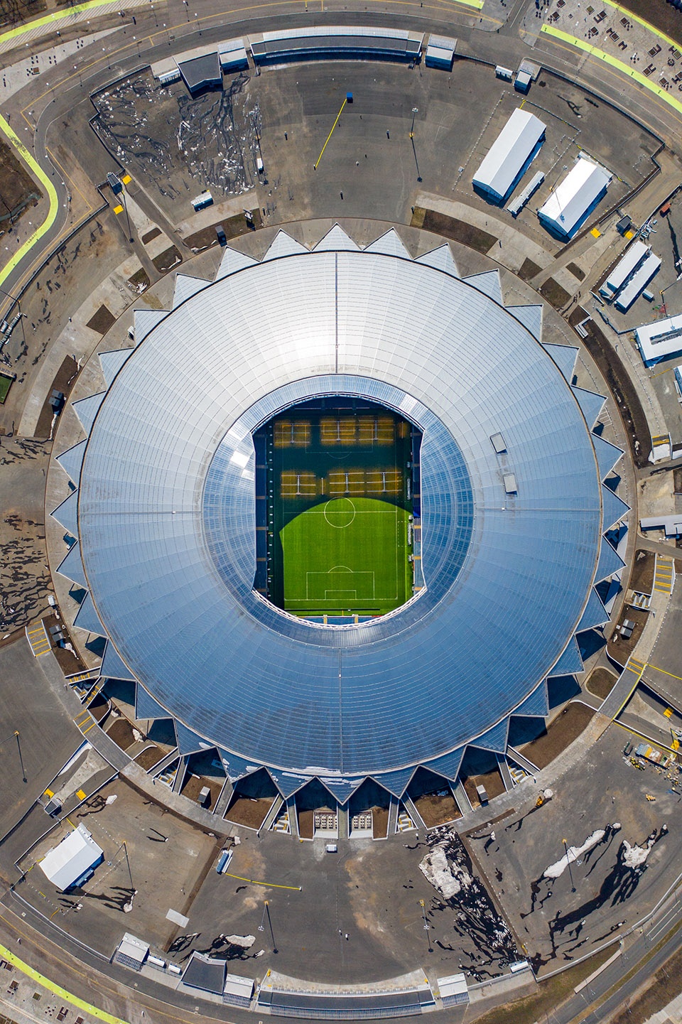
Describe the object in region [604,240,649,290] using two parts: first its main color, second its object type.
white tent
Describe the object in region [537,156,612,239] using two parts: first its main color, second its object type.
white tent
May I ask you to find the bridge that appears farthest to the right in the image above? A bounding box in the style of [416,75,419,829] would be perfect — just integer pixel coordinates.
[598,657,647,720]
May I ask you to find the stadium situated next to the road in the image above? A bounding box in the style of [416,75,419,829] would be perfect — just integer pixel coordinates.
[48,220,632,804]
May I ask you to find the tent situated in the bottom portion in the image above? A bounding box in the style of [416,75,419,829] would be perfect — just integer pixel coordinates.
[39,820,106,890]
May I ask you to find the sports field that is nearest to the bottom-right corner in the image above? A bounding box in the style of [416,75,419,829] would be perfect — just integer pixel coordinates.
[272,410,411,615]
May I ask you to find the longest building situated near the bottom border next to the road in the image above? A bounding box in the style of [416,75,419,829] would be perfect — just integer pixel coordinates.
[257,982,435,1019]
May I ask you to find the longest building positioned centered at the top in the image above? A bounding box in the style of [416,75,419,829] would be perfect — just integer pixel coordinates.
[250,25,421,62]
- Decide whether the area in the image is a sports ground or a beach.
sports ground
